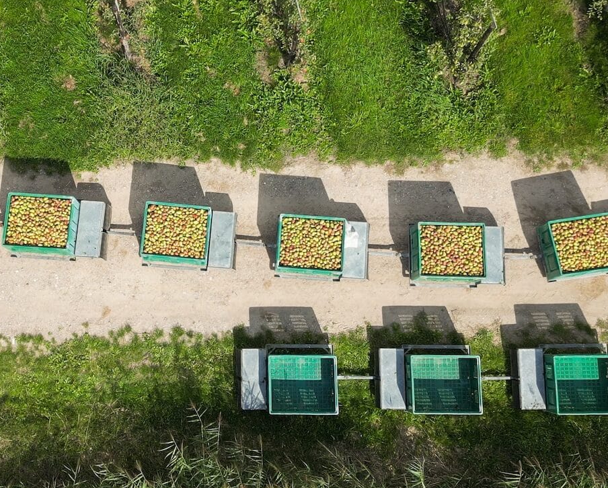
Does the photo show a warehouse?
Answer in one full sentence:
No, no warehouse can be seen from above.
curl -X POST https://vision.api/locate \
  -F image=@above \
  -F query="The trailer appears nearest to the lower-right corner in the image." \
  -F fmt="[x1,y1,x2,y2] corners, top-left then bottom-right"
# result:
[504,345,608,412]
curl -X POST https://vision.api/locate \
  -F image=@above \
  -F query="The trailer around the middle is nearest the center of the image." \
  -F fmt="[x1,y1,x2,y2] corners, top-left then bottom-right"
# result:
[237,215,372,282]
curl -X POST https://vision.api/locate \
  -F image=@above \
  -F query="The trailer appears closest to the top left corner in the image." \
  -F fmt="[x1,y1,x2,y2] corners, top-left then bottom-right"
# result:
[0,199,114,262]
